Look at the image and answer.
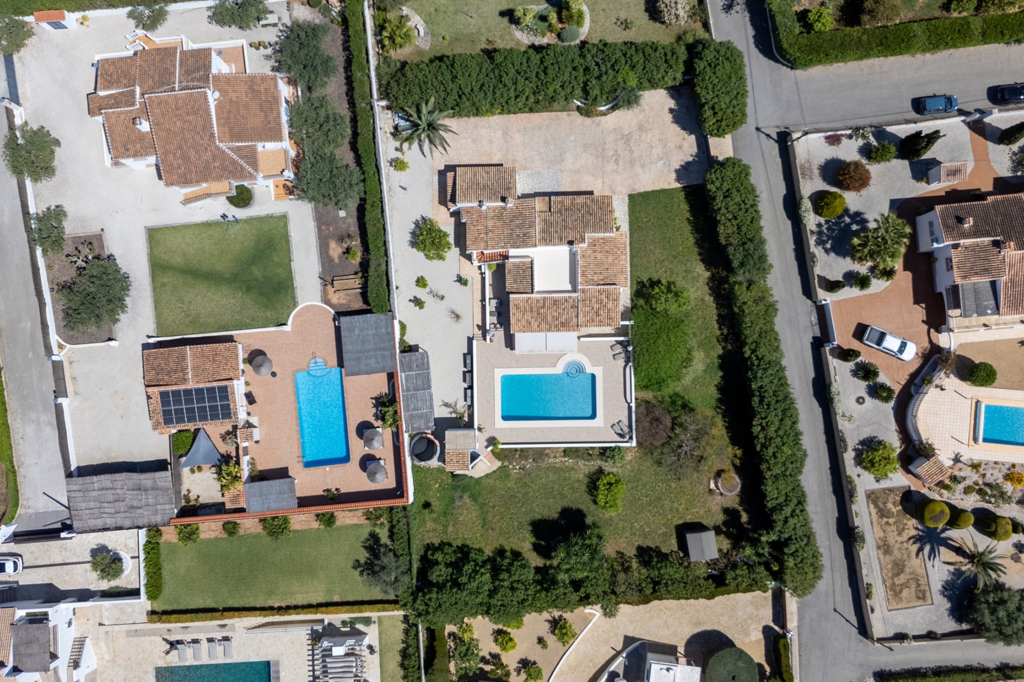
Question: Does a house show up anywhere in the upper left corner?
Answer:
Yes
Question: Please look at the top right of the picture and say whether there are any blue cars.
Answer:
Yes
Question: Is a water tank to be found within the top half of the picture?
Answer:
No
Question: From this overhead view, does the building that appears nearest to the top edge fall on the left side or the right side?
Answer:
left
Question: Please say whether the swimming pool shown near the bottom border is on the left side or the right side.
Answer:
left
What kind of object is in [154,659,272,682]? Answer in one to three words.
swimming pool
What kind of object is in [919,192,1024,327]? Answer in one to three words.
house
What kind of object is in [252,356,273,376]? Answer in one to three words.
umbrella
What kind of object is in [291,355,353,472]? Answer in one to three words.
swimming pool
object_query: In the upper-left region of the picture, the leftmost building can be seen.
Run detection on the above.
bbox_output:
[34,10,81,30]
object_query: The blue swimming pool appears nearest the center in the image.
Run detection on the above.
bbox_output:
[495,353,603,428]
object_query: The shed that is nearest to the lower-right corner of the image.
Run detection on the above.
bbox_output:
[910,456,948,486]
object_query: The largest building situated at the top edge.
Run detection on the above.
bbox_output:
[87,26,300,204]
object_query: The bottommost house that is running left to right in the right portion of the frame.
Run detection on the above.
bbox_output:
[594,633,701,682]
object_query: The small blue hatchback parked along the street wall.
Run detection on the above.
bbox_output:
[918,91,959,114]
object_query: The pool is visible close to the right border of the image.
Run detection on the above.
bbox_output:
[969,397,1024,454]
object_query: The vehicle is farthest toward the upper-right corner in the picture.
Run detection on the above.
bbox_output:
[998,84,1024,107]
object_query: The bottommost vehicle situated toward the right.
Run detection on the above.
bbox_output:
[856,323,913,360]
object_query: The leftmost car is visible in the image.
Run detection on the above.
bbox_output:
[0,552,26,574]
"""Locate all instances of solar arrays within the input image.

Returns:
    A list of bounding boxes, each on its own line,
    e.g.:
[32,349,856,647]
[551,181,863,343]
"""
[159,385,233,425]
